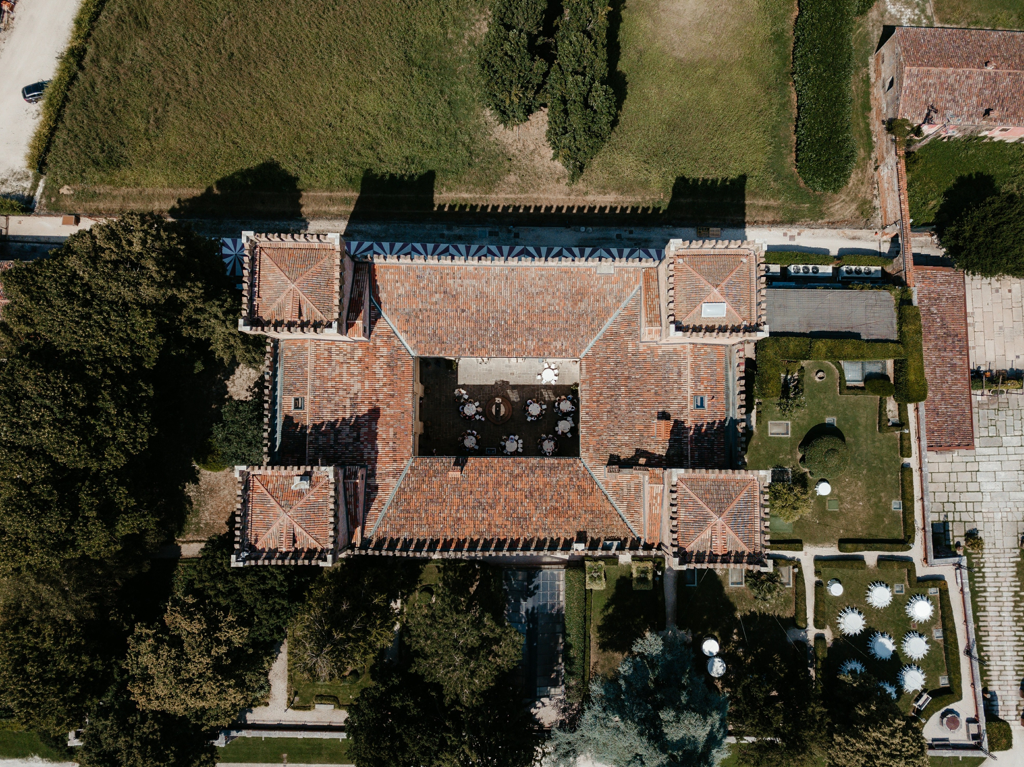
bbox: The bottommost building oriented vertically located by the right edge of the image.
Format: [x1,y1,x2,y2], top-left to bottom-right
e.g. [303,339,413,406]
[915,267,976,450]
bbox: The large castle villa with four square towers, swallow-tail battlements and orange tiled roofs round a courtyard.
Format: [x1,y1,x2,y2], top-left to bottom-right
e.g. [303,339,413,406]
[230,231,773,572]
